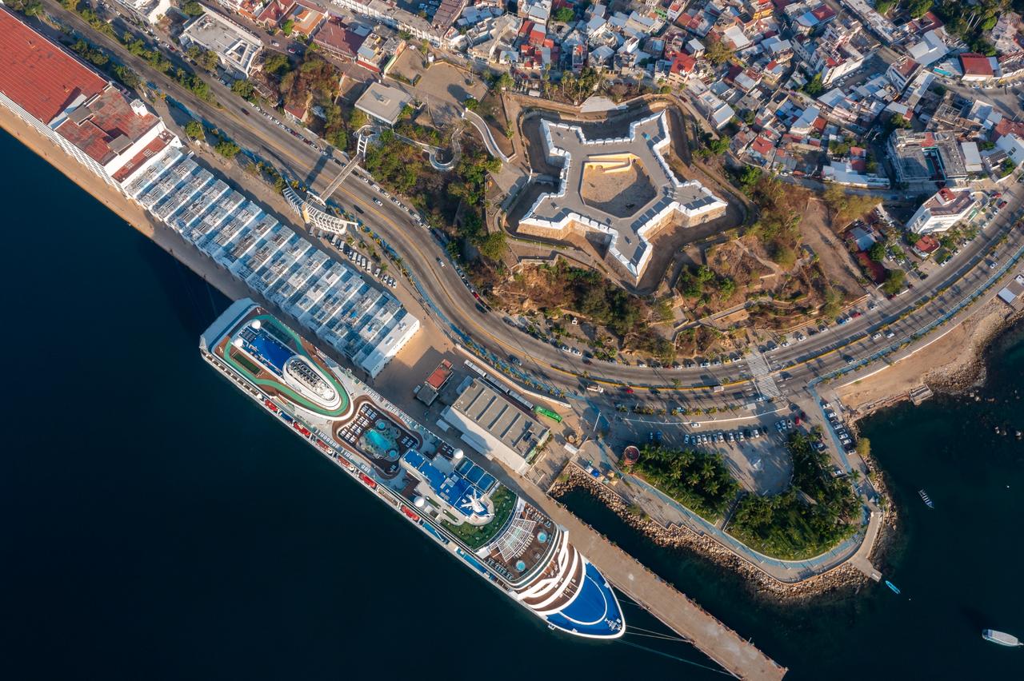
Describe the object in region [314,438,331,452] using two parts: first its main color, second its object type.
red boat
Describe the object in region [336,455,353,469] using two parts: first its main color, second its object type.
red boat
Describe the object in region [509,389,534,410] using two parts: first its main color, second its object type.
gray bus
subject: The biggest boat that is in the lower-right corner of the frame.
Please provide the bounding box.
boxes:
[981,627,1022,647]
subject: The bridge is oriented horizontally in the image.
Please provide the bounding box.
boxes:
[516,171,566,188]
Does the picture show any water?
Yes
